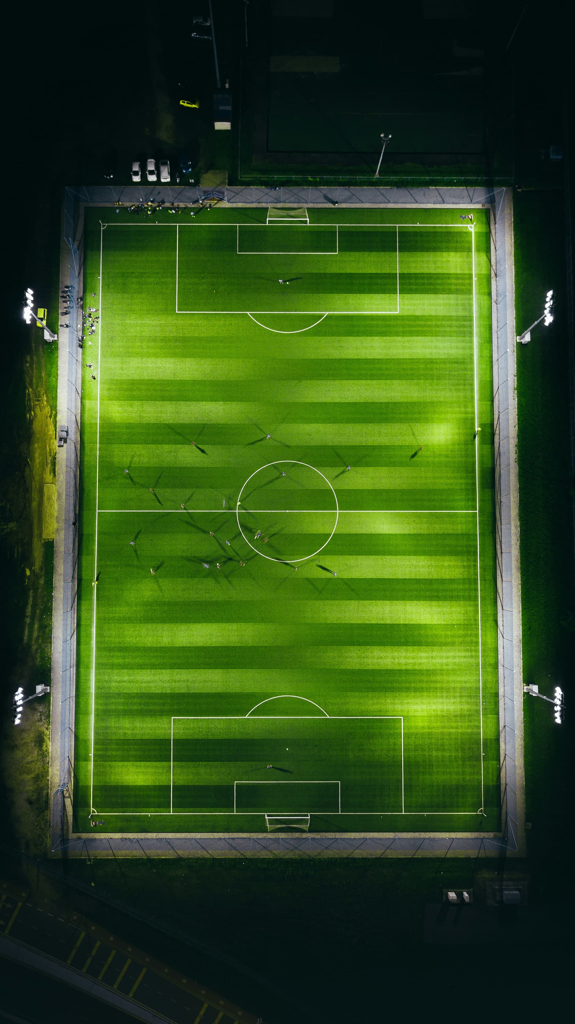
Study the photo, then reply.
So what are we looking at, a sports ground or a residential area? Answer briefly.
sports ground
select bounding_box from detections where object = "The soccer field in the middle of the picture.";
[72,207,502,832]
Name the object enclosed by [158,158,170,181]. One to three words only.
vehicle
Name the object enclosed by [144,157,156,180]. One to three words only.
vehicle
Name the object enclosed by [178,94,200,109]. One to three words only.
car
